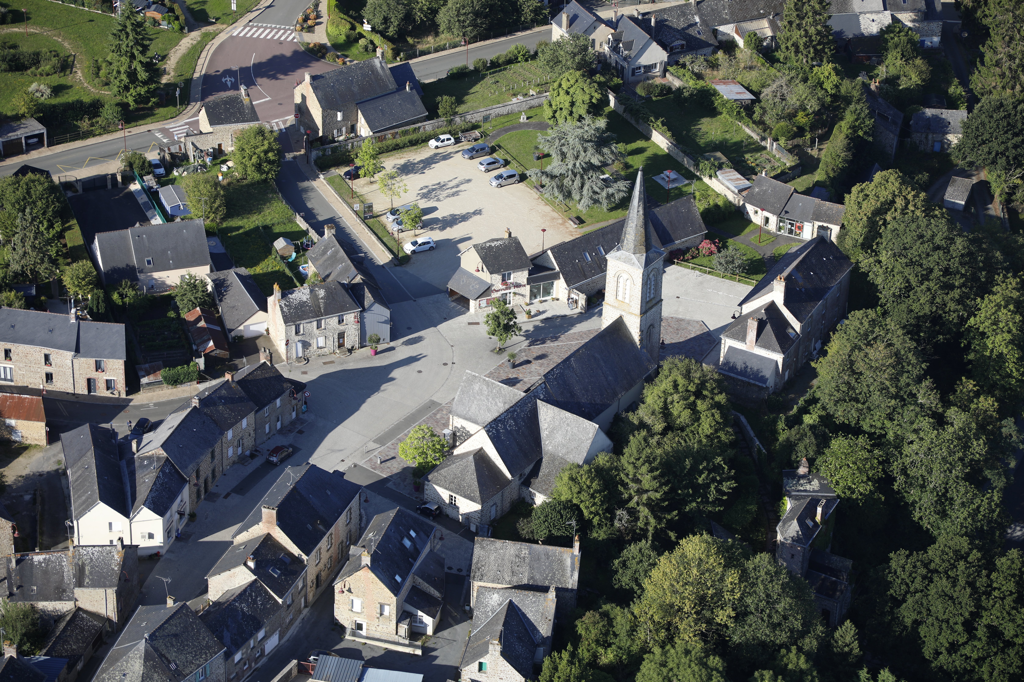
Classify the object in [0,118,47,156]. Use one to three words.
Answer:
building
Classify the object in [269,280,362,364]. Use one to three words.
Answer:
house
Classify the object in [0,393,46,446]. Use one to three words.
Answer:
barn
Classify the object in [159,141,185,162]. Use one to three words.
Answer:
shed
